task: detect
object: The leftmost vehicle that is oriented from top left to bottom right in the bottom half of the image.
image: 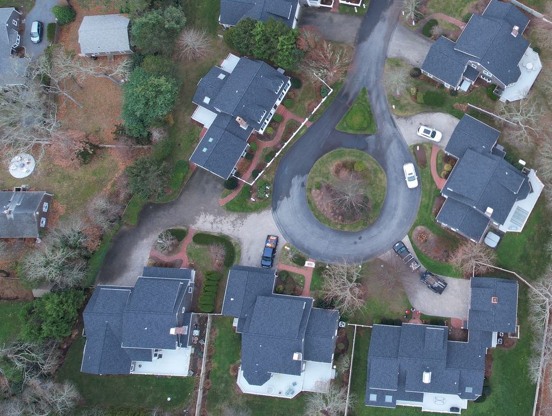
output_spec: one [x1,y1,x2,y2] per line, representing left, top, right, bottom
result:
[391,237,422,275]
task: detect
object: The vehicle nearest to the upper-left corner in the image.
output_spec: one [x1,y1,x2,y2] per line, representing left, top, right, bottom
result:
[27,19,44,45]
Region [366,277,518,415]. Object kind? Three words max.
house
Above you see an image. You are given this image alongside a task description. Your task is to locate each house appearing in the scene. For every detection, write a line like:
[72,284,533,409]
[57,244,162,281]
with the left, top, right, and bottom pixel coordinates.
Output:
[0,8,36,92]
[436,114,544,250]
[222,263,339,400]
[421,0,543,104]
[220,0,322,34]
[0,185,52,238]
[189,50,293,180]
[81,268,201,377]
[366,277,518,415]
[79,13,129,61]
